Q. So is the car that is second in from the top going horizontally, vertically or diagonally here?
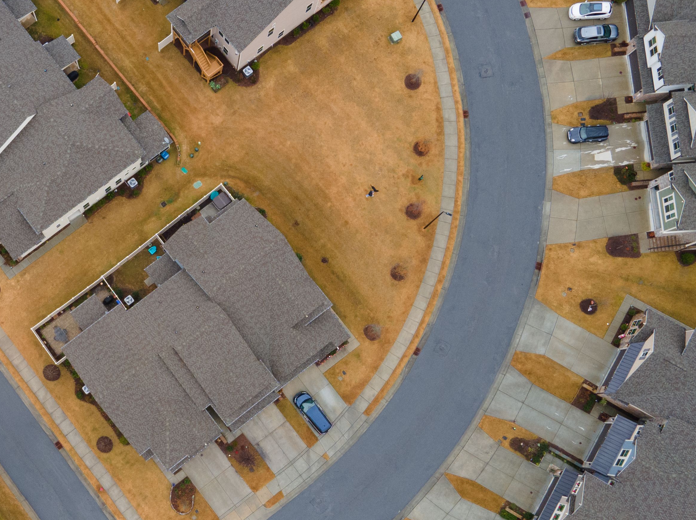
horizontally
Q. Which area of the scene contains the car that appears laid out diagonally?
bottom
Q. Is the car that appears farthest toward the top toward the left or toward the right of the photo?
right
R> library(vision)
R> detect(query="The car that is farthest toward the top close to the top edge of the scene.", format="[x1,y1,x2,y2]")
[566,0,613,23]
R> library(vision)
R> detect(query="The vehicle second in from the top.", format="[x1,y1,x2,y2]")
[571,23,619,47]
